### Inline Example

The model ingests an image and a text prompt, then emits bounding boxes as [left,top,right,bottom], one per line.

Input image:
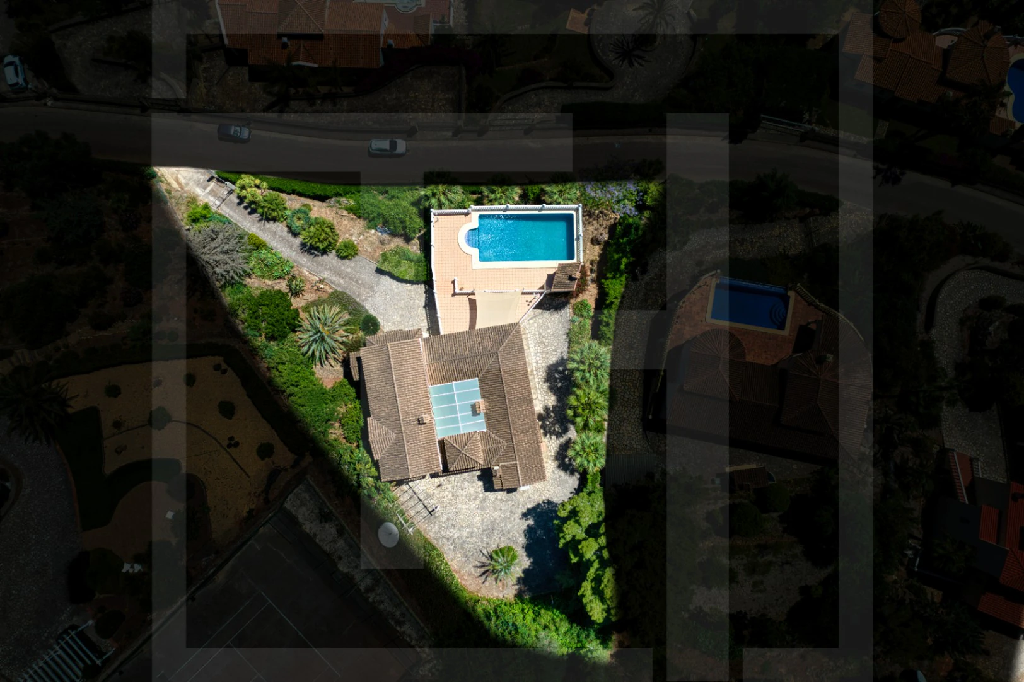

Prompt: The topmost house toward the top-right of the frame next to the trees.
[825,0,1015,138]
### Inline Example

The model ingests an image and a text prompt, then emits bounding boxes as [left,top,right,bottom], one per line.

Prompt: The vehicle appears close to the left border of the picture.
[0,51,25,91]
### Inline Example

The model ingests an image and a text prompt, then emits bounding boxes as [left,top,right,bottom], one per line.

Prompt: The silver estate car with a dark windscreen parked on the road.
[366,135,405,156]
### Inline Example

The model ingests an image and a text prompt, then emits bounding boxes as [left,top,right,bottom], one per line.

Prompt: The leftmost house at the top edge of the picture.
[218,0,433,84]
